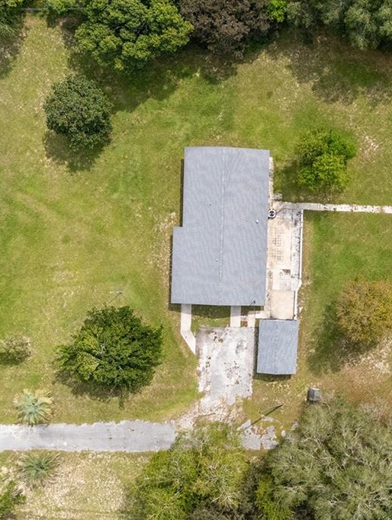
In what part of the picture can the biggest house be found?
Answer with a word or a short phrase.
center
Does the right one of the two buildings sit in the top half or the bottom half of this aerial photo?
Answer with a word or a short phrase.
bottom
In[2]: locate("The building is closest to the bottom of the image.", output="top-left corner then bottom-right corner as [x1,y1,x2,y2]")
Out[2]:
[256,320,298,374]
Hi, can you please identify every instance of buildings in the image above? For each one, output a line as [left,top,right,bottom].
[169,147,269,307]
[256,320,298,374]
